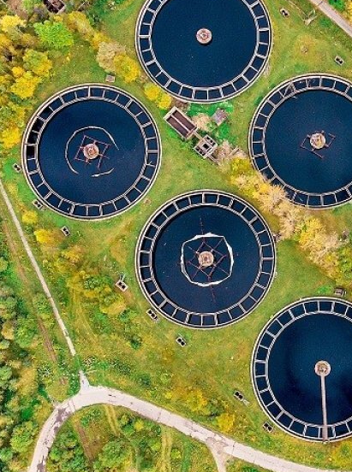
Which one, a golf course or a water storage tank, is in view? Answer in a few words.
water storage tank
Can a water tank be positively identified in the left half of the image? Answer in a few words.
Yes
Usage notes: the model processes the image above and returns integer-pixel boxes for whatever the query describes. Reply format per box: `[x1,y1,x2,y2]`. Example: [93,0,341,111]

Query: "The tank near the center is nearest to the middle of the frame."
[134,189,277,331]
